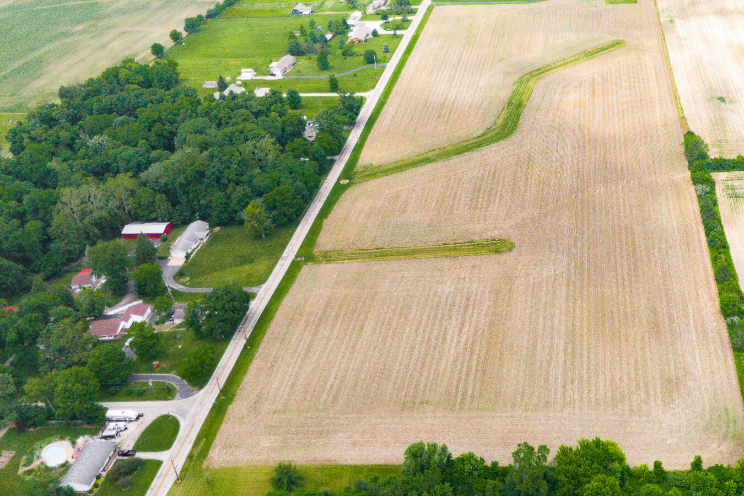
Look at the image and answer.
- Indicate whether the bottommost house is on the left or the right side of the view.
left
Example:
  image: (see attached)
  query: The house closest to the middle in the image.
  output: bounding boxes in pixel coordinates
[302,122,320,147]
